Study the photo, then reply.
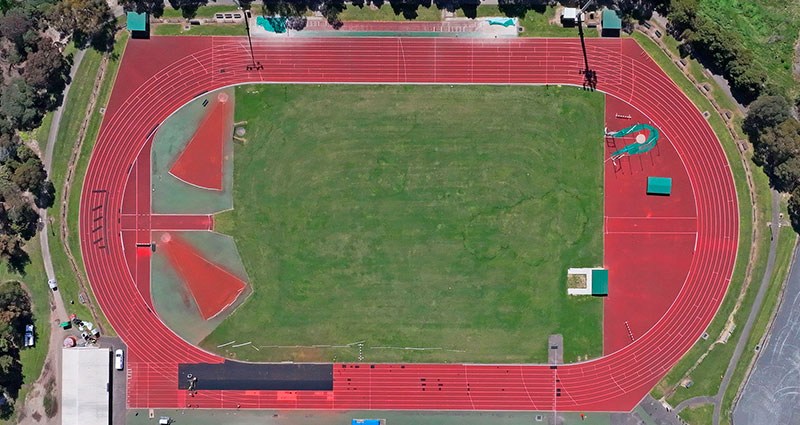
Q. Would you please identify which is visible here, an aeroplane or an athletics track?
athletics track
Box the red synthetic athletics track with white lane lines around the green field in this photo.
[79,36,740,412]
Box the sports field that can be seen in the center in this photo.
[200,83,604,364]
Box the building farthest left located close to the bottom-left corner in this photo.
[61,347,112,425]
